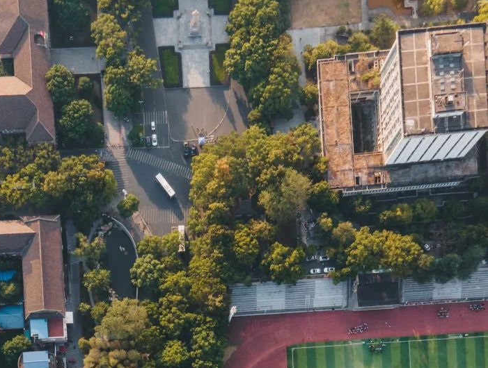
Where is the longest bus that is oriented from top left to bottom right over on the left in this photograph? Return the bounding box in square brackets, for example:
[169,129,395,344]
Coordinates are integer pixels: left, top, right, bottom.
[154,170,176,199]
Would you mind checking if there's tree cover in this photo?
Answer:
Yes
